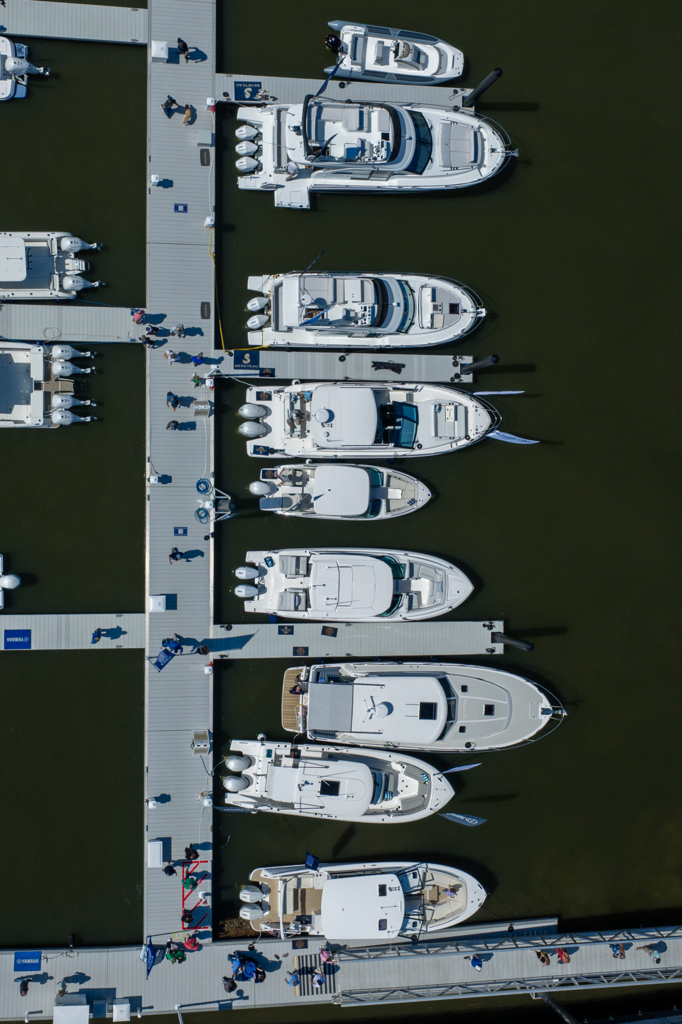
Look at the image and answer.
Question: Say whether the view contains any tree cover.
No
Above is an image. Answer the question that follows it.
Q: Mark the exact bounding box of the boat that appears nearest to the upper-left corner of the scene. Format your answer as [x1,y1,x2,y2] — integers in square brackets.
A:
[0,36,56,107]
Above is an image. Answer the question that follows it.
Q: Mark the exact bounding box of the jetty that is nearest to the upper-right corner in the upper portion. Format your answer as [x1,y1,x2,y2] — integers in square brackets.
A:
[216,74,474,117]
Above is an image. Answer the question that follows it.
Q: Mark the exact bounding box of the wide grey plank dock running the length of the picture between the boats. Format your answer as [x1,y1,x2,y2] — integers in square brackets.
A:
[144,0,216,945]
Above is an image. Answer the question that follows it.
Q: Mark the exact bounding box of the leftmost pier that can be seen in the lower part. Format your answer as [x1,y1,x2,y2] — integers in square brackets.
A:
[0,613,145,650]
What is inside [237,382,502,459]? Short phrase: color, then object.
white boat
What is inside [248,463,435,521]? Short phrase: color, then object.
white boat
